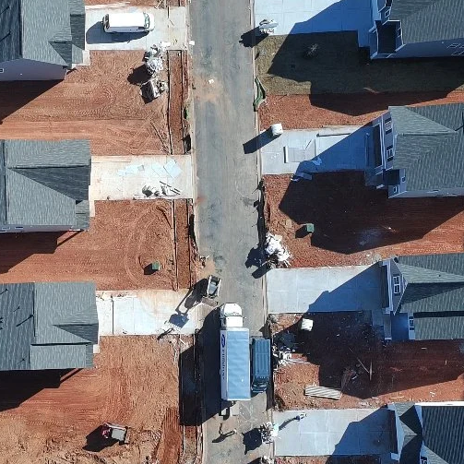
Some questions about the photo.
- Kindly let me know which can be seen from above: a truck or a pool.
truck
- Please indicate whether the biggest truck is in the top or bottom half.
bottom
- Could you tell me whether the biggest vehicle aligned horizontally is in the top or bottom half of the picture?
top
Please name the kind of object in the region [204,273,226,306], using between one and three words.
work vehicle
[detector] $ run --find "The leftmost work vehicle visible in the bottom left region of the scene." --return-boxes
[95,422,130,445]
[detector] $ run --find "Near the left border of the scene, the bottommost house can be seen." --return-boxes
[0,281,99,372]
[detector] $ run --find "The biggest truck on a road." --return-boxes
[221,298,257,417]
